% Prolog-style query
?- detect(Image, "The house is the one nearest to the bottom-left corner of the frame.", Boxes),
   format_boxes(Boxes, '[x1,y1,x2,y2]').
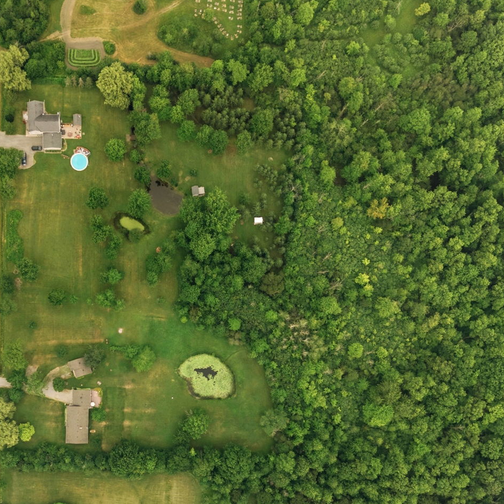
[65,388,91,444]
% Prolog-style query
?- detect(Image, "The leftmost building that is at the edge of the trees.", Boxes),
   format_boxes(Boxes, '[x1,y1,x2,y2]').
[27,100,63,153]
